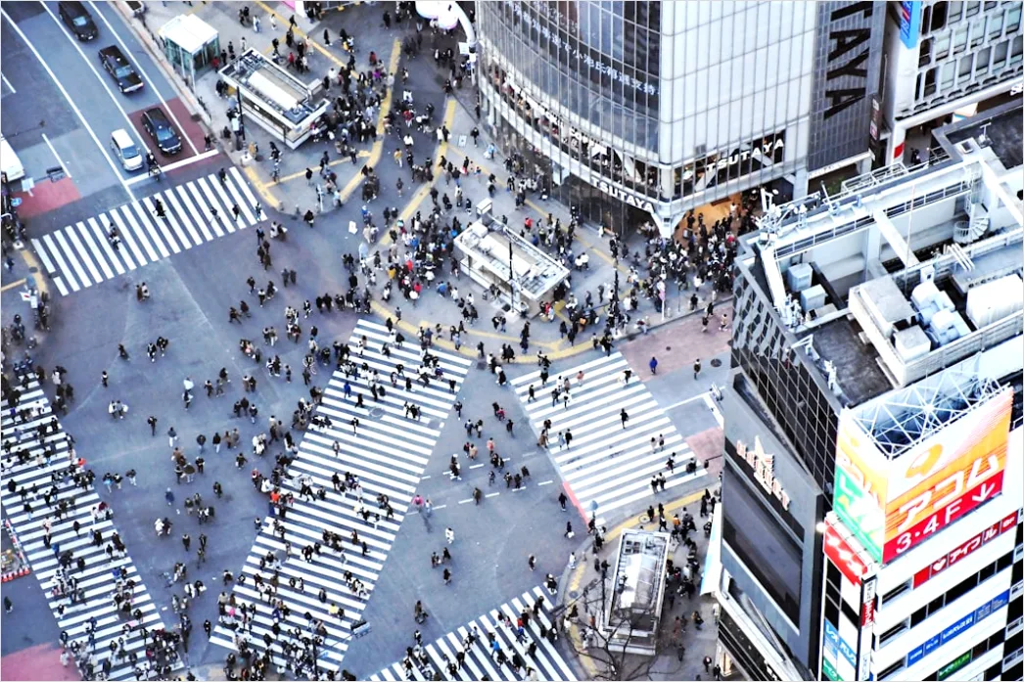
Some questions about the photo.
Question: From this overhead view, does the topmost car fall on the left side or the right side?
left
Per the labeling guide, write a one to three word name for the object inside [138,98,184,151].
car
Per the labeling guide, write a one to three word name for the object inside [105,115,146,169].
car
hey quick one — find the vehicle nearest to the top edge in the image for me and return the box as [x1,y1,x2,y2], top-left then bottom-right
[54,0,103,40]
